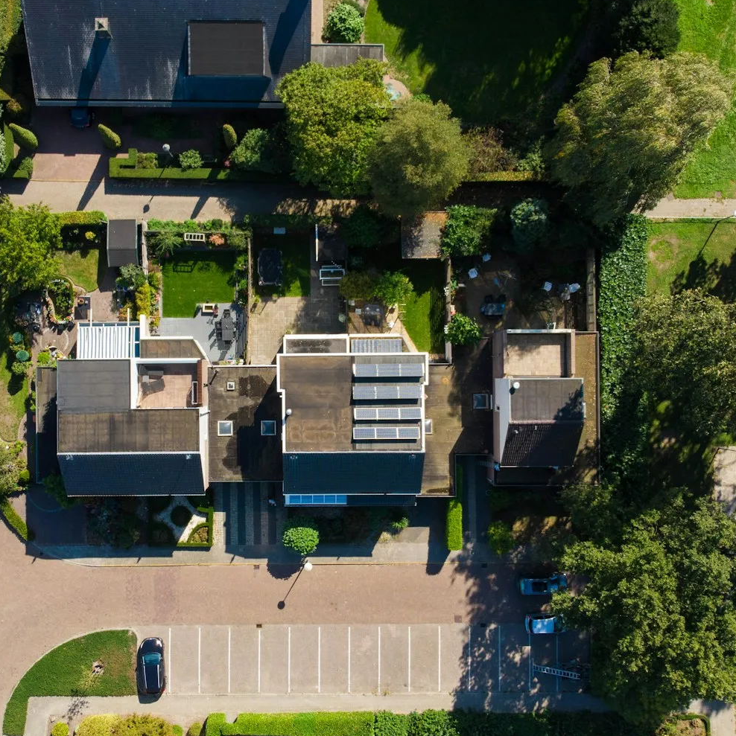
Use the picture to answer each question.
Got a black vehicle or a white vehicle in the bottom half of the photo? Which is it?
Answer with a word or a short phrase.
black vehicle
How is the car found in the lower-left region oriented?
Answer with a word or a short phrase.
up and down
